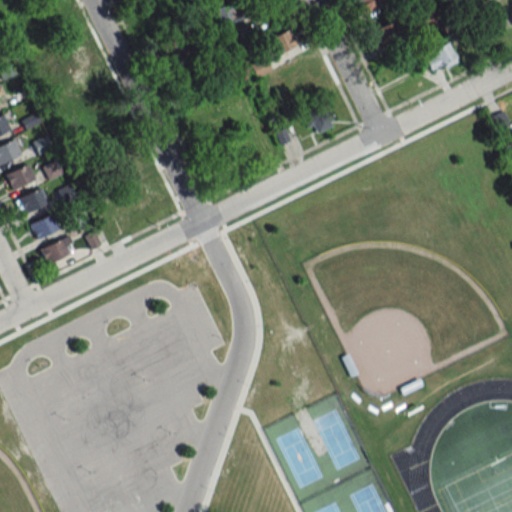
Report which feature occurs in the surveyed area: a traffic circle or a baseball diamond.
baseball diamond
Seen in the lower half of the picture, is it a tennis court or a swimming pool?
tennis court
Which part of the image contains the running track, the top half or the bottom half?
bottom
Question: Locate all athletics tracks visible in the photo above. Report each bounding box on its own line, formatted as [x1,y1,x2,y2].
[391,378,512,512]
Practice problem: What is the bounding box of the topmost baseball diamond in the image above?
[304,241,508,396]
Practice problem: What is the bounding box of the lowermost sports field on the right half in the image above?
[432,402,512,512]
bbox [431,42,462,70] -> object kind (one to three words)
house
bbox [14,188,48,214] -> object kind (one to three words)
house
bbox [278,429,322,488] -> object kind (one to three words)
tennis court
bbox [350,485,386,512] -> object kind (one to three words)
tennis court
